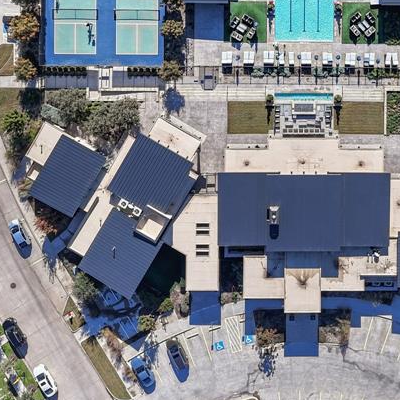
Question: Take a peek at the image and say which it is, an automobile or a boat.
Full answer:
Looking from above, you can make out an automobile.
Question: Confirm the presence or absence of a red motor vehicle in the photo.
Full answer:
No, there's no red motor vehicle here.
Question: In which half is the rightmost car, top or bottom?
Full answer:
You can find the rightmost car in the bottom half.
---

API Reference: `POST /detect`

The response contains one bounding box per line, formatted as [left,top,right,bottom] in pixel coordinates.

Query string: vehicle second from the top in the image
[1,319,26,353]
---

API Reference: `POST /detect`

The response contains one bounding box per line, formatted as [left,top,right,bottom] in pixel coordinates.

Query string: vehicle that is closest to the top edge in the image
[6,219,31,252]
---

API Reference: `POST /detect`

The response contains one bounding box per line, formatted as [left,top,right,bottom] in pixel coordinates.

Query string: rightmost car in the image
[166,341,189,374]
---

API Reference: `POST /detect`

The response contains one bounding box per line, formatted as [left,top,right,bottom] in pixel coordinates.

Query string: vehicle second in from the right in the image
[130,357,156,394]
